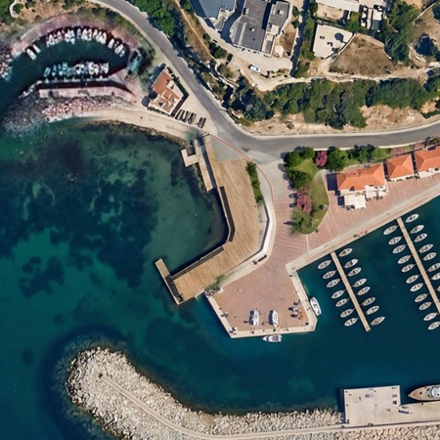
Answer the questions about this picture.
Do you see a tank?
No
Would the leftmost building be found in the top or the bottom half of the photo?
top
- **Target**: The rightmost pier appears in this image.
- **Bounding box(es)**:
[398,218,440,313]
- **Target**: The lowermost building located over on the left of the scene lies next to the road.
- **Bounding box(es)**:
[148,70,183,115]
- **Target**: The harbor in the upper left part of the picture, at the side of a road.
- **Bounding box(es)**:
[18,14,140,102]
